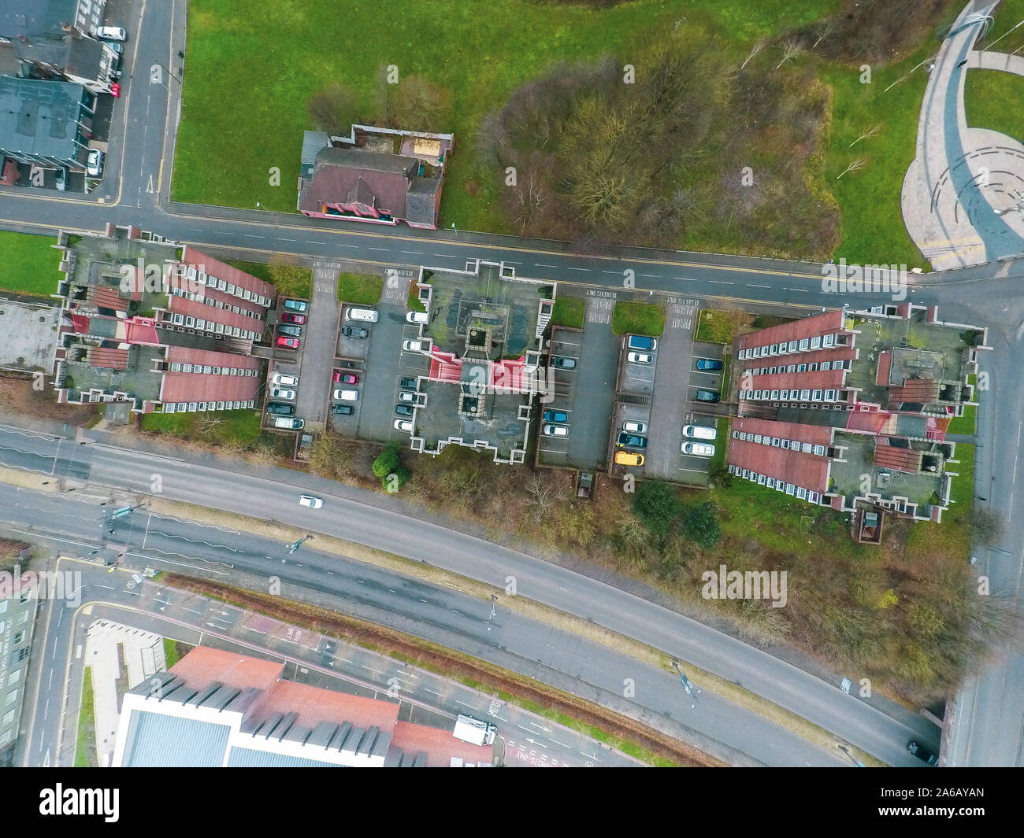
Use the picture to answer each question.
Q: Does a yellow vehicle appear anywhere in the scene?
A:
Yes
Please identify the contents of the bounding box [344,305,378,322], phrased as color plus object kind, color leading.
white vehicle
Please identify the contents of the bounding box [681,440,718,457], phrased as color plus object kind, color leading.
white vehicle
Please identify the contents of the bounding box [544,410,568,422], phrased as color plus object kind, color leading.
blue vehicle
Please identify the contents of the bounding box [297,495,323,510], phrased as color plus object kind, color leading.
white car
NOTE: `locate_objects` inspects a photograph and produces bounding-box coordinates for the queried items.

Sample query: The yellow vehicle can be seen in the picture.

[615,452,645,468]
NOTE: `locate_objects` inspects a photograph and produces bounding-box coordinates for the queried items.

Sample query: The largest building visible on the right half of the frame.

[723,299,988,524]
